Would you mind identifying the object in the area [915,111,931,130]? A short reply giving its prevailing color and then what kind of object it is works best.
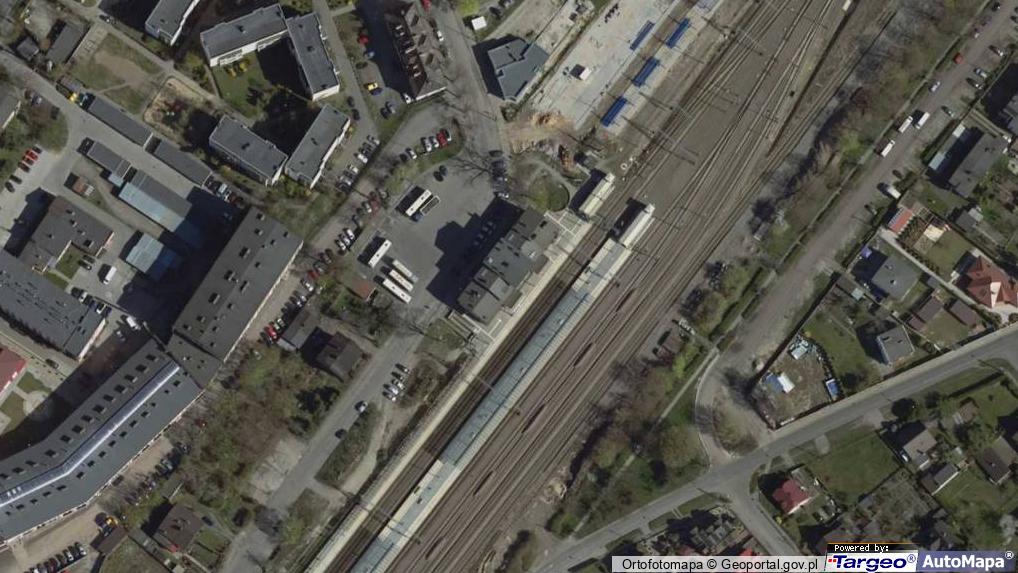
white vehicle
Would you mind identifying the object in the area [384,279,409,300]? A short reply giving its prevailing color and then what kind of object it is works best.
white bus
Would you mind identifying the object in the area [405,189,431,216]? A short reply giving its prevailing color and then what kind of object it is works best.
white bus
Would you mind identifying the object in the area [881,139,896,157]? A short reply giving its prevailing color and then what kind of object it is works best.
white vehicle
